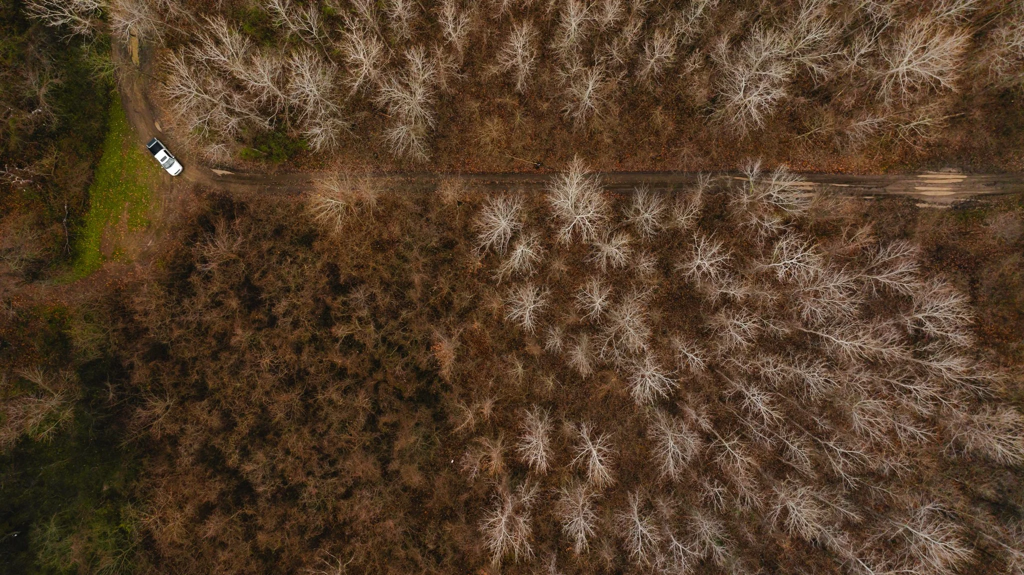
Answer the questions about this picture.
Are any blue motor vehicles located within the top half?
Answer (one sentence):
No, I can find no blue motor vehicle within the top half.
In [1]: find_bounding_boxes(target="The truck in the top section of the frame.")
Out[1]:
[148,138,186,178]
